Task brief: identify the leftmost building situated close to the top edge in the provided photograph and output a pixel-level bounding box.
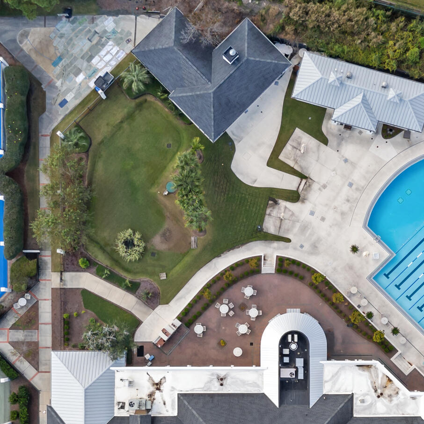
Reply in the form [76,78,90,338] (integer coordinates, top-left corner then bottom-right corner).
[130,6,293,143]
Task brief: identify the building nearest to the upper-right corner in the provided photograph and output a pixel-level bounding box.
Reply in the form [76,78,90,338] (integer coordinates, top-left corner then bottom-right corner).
[291,50,424,131]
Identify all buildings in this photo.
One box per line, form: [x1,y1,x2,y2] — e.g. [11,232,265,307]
[130,6,293,143]
[47,307,424,424]
[291,50,424,131]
